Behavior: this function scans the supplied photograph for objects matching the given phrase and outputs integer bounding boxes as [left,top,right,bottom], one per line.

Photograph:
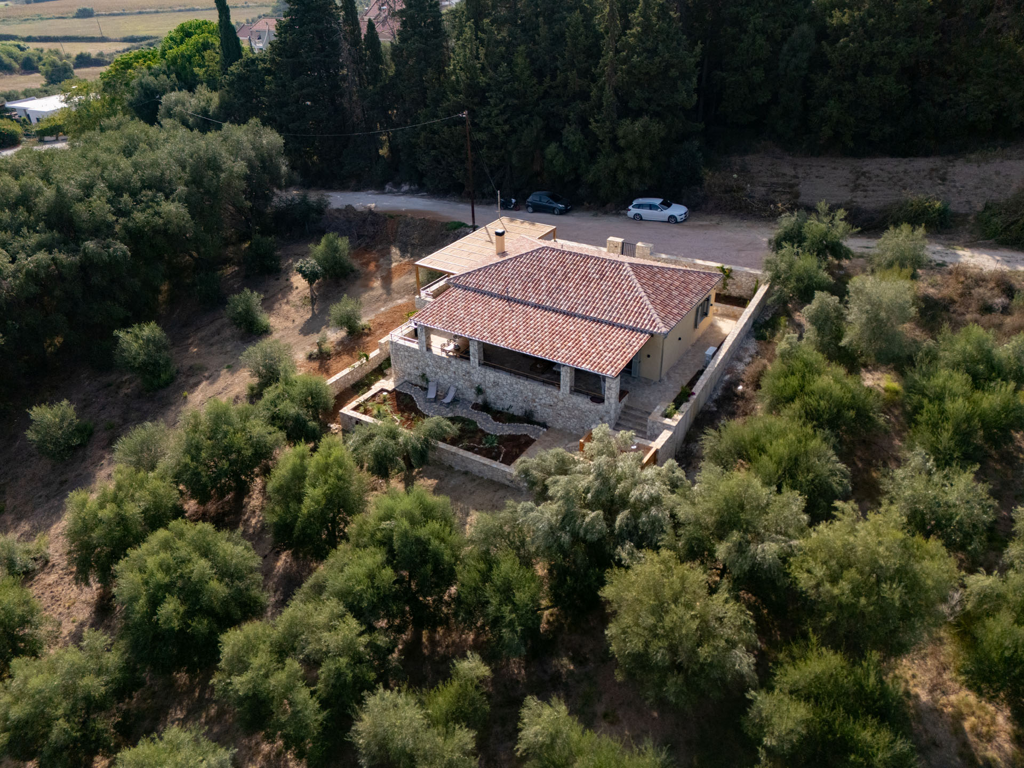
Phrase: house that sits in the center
[409,231,723,409]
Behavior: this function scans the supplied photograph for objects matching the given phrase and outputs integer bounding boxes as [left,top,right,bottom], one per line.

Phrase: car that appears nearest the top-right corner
[627,198,687,223]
